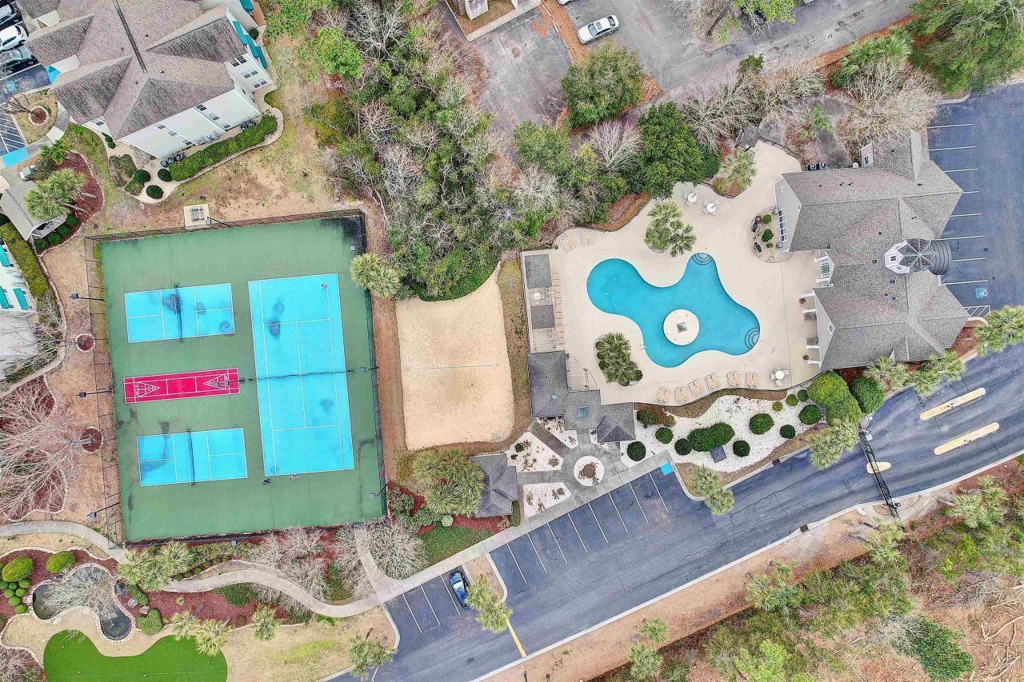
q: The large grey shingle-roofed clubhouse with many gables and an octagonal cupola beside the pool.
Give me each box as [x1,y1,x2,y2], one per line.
[771,111,970,370]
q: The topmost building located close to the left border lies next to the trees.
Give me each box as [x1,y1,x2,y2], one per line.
[11,0,274,158]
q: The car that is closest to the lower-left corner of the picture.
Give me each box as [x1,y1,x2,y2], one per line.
[445,568,471,610]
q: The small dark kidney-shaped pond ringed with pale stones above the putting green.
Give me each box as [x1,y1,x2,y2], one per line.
[30,564,134,642]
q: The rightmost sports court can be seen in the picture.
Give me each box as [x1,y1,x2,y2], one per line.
[397,274,515,450]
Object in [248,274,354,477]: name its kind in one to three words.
tennis court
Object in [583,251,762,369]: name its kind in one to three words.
swimming pool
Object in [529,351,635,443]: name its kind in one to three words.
building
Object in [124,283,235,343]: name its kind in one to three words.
sports court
